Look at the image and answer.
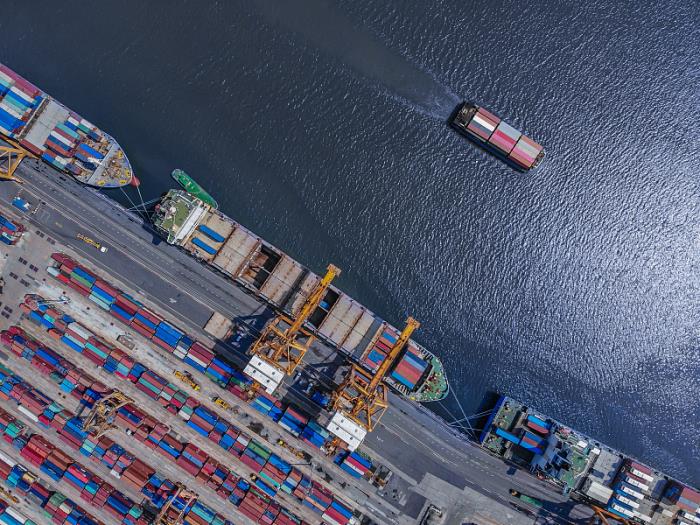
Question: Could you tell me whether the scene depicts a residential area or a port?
port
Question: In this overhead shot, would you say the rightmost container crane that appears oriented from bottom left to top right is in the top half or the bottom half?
bottom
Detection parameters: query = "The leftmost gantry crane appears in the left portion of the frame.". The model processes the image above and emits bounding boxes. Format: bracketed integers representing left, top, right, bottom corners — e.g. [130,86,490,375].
[0,134,44,187]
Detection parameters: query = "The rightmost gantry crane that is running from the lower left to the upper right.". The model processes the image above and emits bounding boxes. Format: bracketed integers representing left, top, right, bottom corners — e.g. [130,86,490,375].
[321,314,421,450]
